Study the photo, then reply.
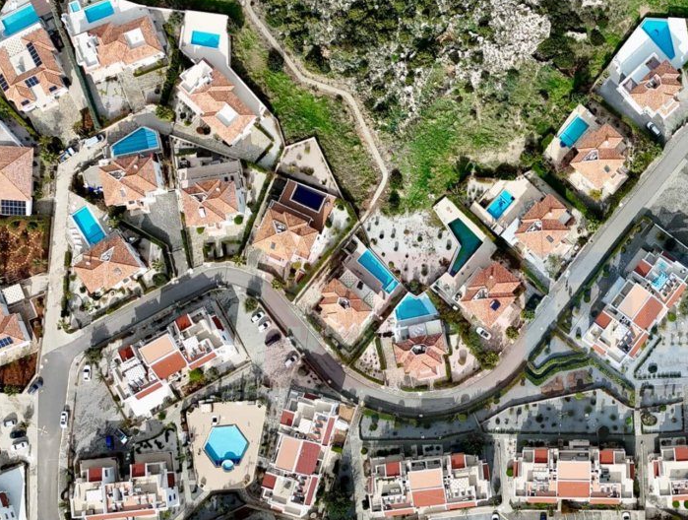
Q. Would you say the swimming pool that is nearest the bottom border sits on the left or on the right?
left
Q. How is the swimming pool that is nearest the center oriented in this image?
at an angle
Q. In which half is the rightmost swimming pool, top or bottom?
top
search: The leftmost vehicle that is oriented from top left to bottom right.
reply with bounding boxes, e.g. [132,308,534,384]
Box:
[112,428,132,448]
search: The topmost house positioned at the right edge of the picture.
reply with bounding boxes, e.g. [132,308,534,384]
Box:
[618,48,686,123]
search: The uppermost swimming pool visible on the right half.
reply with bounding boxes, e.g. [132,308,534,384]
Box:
[613,17,688,75]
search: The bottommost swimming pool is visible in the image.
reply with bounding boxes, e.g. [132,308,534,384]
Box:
[187,400,266,491]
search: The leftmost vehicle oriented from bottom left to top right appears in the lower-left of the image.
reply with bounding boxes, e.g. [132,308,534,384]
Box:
[28,377,44,394]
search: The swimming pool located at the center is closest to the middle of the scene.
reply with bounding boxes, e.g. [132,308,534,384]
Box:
[342,235,404,299]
